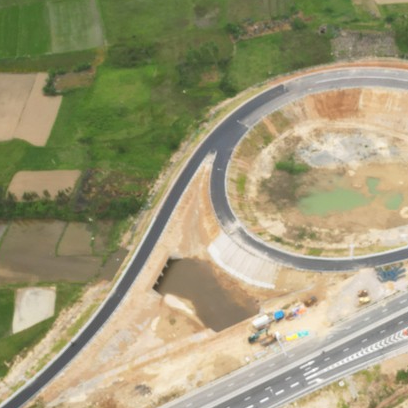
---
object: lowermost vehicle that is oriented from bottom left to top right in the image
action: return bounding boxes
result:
[246,327,270,345]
